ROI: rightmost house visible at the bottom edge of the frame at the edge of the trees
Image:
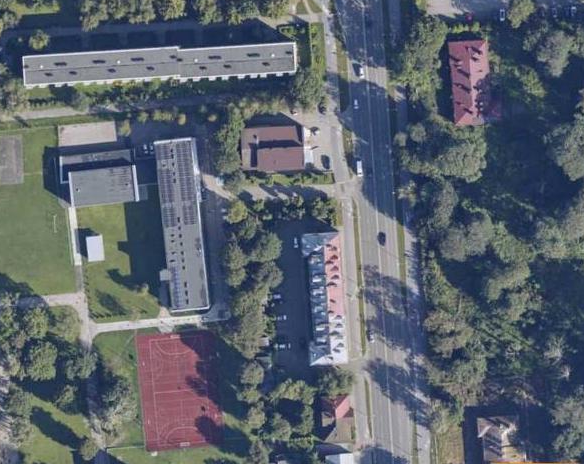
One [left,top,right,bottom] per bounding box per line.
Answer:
[478,416,514,464]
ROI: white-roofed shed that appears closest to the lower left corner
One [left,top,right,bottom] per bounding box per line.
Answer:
[86,233,105,262]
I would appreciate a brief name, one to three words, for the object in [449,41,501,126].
house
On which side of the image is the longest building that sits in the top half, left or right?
left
